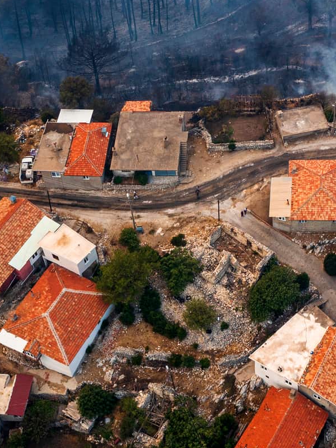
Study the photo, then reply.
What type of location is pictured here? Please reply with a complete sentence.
This looks like a residential area.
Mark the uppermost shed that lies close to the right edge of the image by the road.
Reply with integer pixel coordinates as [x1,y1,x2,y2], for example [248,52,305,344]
[275,105,329,147]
